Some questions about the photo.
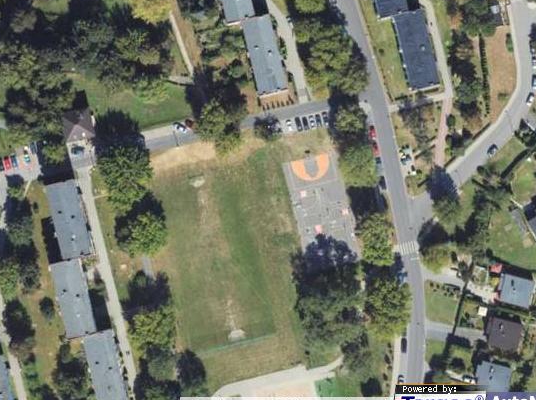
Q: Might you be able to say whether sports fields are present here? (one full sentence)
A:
Yes, this view includes a sports field.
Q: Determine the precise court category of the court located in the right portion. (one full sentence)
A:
Specifically, the court located in the right portion is a basketball court.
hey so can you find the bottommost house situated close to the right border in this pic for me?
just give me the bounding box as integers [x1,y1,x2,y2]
[473,361,513,399]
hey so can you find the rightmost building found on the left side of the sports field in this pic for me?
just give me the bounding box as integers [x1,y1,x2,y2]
[83,331,128,400]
